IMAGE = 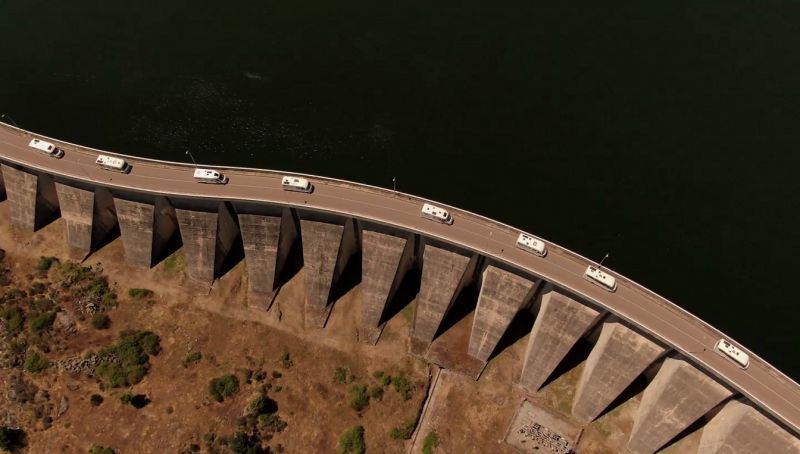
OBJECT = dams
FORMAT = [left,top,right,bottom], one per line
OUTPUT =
[0,120,800,454]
